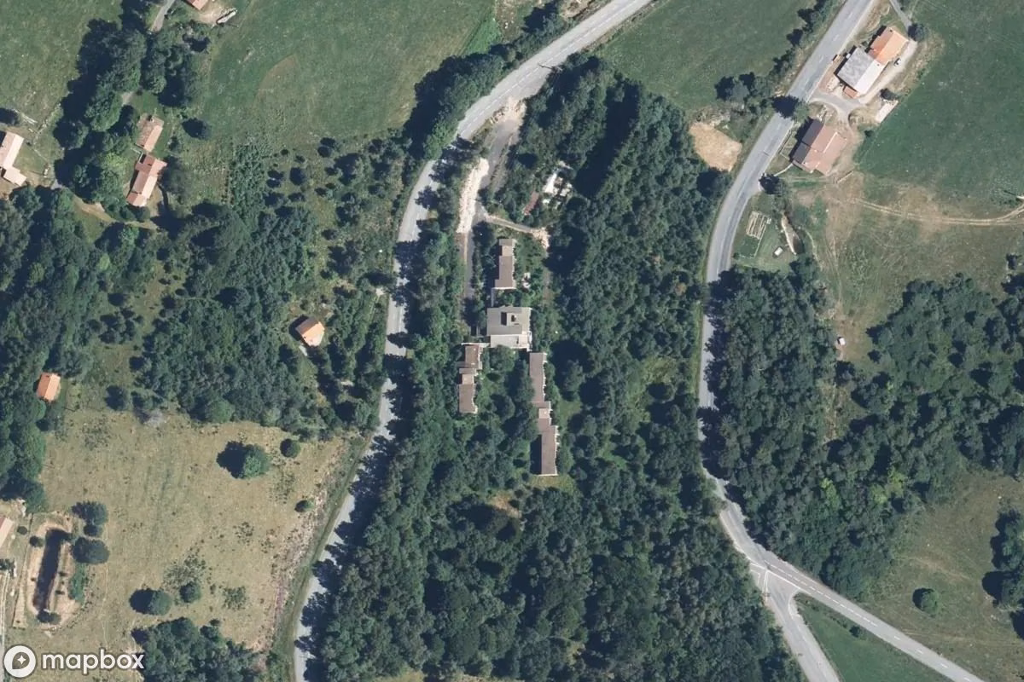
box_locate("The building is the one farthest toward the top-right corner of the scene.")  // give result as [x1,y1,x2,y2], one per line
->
[870,26,908,66]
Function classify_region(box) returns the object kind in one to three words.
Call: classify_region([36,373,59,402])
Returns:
house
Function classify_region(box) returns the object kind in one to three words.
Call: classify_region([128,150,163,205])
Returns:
house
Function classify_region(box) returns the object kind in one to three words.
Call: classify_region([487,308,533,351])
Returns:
building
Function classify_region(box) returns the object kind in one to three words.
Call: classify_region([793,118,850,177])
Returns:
barn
